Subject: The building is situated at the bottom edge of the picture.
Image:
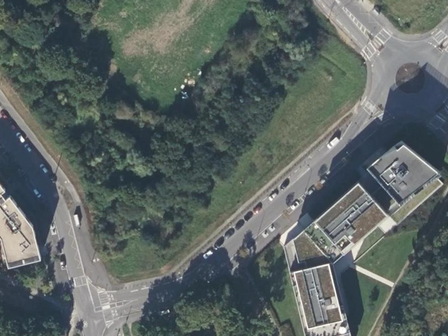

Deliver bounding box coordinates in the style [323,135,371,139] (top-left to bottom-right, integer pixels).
[284,224,352,336]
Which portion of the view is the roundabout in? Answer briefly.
top right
